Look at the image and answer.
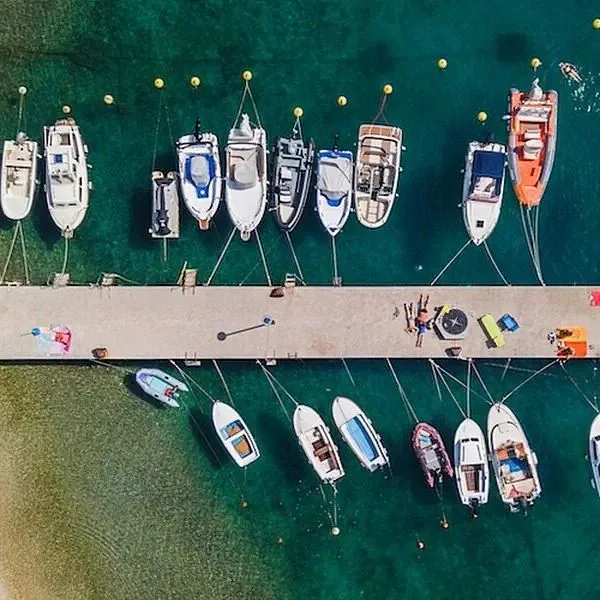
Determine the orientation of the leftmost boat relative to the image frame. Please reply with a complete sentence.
The leftmost boat has been laid out vertically relative to the frame.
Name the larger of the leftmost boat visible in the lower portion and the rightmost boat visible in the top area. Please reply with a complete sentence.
The leftmost boat visible in the lower portion is smaller than the rightmost boat visible in the top area.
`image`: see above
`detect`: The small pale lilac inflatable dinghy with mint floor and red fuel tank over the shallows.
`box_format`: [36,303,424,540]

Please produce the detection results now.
[137,371,189,406]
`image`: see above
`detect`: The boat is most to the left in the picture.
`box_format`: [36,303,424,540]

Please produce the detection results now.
[1,131,41,221]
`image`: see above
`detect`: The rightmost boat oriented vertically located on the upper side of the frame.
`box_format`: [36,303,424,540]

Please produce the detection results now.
[502,79,556,207]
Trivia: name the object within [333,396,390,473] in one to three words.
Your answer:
boat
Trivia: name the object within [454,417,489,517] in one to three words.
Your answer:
boat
